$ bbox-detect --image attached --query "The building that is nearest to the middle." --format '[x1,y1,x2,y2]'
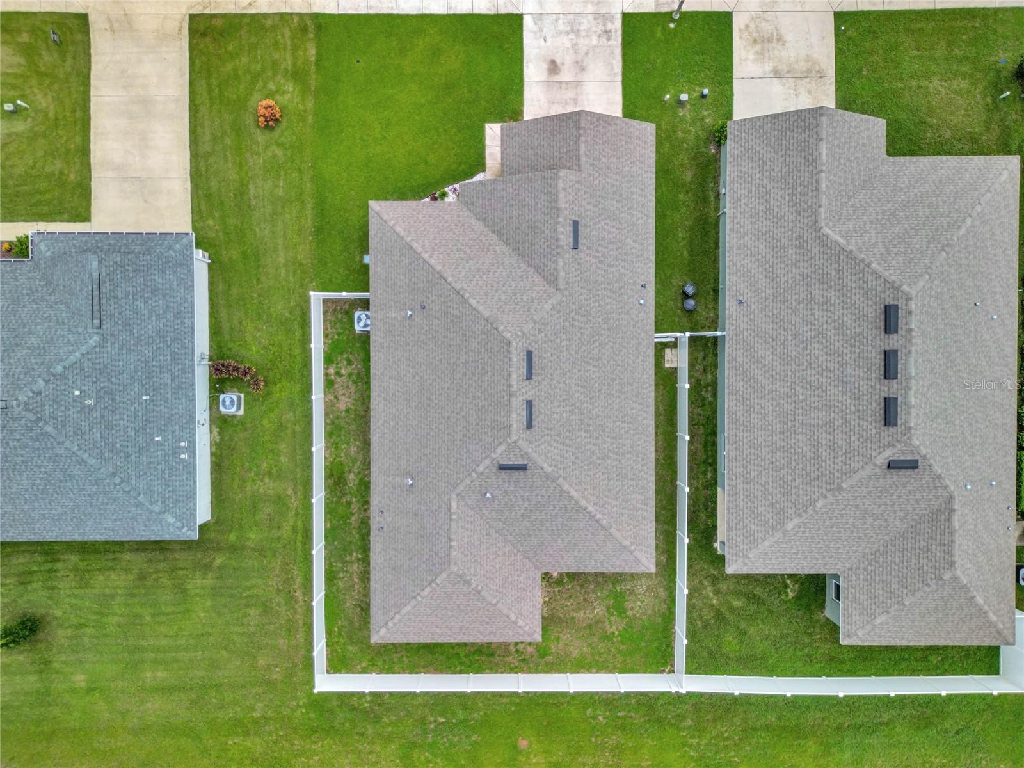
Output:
[369,110,656,643]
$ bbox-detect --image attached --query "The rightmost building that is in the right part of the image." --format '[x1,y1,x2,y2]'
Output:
[712,105,1021,645]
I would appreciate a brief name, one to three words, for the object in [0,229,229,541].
house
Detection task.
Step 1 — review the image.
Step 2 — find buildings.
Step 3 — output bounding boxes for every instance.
[712,105,1021,645]
[0,229,229,541]
[369,110,656,643]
